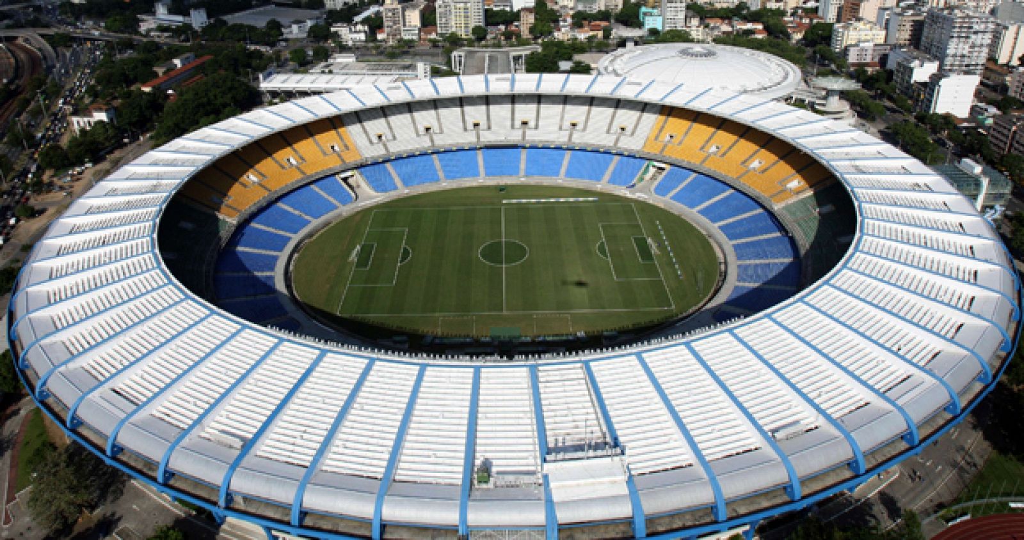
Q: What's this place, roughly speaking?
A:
sports ground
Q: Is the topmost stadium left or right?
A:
right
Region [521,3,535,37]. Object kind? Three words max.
building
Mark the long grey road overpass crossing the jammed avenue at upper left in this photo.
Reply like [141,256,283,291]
[0,28,200,50]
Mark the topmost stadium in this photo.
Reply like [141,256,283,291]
[598,41,805,104]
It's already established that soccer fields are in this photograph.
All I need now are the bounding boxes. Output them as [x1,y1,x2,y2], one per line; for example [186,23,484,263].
[298,182,723,352]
